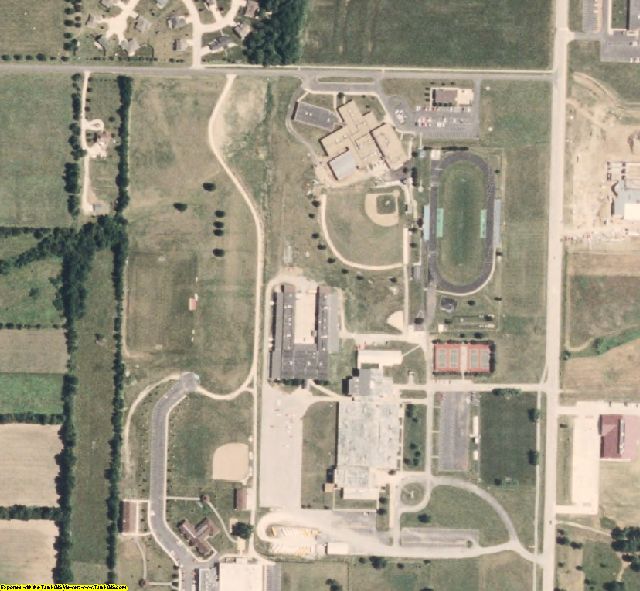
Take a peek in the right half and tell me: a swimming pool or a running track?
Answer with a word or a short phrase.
running track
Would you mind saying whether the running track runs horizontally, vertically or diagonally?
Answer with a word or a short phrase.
vertically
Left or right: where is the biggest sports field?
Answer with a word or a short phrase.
right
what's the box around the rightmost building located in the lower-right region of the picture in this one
[601,415,640,459]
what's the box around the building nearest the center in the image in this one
[276,284,339,380]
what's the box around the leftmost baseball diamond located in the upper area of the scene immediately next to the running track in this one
[321,190,403,270]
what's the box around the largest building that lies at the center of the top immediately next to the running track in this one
[319,99,408,179]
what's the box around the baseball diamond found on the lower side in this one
[212,443,249,480]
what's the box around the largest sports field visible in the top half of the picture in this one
[437,158,488,285]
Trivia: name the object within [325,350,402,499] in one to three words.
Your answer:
building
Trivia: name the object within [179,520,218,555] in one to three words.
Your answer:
building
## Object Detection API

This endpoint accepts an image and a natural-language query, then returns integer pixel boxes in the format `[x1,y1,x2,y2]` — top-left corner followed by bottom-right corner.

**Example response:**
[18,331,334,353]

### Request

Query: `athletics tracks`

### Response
[428,151,496,292]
